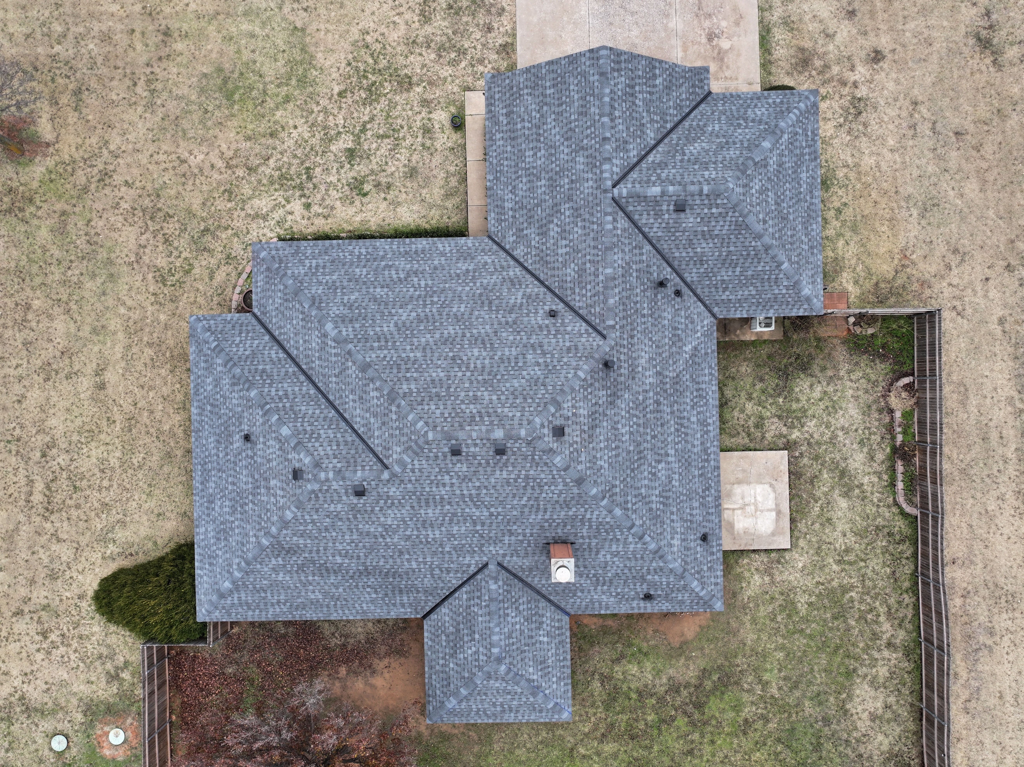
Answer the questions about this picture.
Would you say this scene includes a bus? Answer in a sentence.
No, I find no bus anywhere in the image.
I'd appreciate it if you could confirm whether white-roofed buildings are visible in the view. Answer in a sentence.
No, I can see no white-roofed building in this picture.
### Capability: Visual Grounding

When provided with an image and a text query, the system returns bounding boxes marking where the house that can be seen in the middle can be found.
[189,44,823,723]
